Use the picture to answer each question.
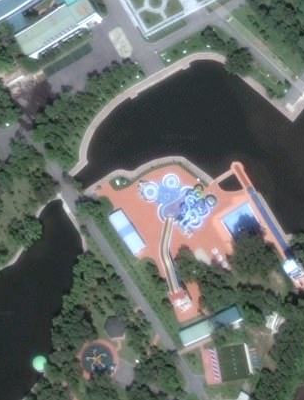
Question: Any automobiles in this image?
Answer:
No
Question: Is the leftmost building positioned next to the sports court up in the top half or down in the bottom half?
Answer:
bottom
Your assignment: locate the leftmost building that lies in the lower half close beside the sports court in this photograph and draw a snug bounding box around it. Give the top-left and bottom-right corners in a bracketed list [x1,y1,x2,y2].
[180,318,213,346]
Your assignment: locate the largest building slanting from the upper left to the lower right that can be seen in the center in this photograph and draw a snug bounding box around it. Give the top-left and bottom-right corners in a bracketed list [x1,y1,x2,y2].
[110,209,147,254]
